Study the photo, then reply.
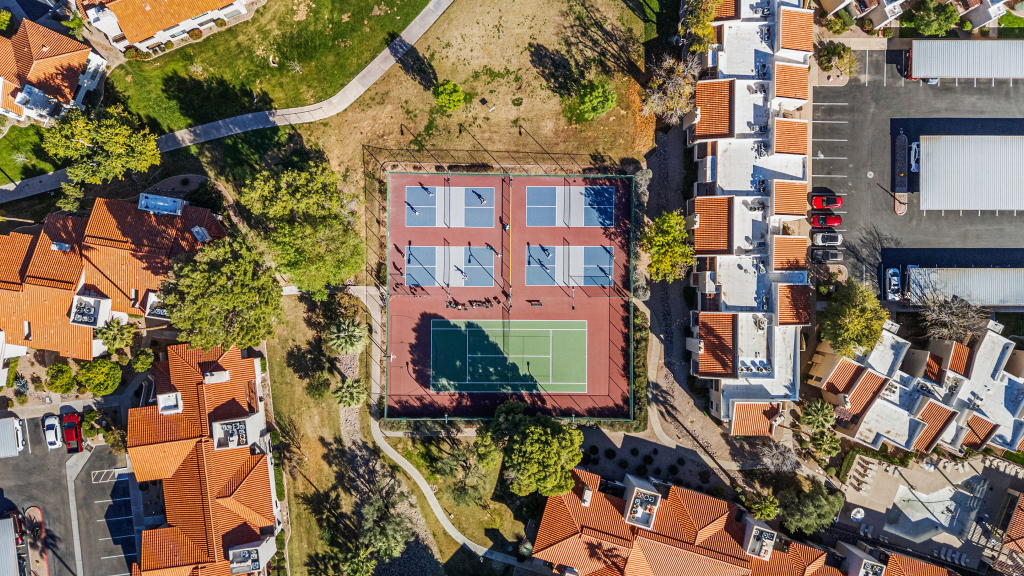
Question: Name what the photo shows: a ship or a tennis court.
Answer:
tennis court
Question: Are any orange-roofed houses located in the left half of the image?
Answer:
Yes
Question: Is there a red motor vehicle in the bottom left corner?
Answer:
Yes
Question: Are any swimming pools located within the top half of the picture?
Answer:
No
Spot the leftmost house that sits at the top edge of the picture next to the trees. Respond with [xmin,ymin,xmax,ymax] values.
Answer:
[0,18,113,126]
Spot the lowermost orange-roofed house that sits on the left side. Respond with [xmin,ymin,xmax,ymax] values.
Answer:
[127,342,288,576]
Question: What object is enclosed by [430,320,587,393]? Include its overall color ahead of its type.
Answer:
green tennis court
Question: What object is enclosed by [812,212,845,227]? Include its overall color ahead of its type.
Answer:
red car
